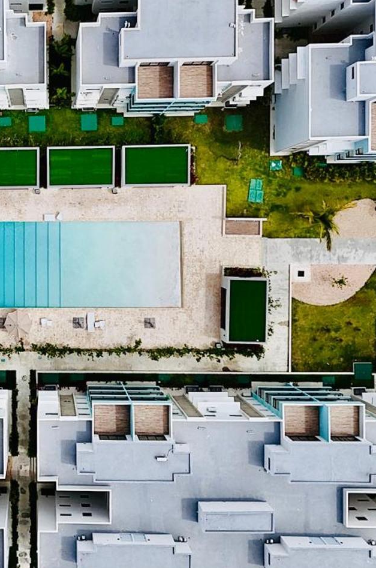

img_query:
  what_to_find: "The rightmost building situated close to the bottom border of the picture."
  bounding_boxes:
[34,379,376,568]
